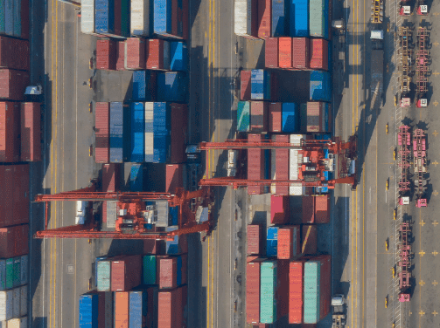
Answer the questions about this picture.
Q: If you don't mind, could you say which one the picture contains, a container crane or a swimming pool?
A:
container crane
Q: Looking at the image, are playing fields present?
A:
No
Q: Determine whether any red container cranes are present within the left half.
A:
Yes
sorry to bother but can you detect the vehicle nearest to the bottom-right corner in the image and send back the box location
[398,276,410,303]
